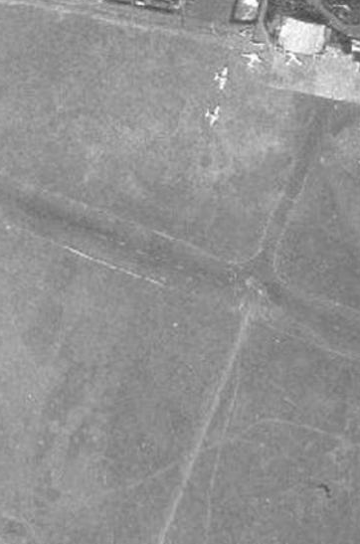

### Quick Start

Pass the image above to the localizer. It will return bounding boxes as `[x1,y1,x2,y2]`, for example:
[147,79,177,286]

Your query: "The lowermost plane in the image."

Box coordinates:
[205,106,218,126]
